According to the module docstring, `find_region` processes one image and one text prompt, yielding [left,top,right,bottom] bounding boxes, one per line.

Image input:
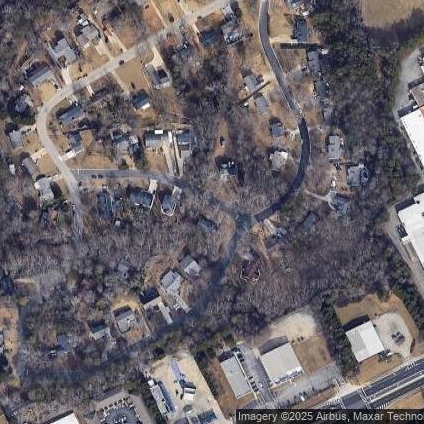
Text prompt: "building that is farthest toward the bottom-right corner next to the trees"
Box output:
[346,321,385,362]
